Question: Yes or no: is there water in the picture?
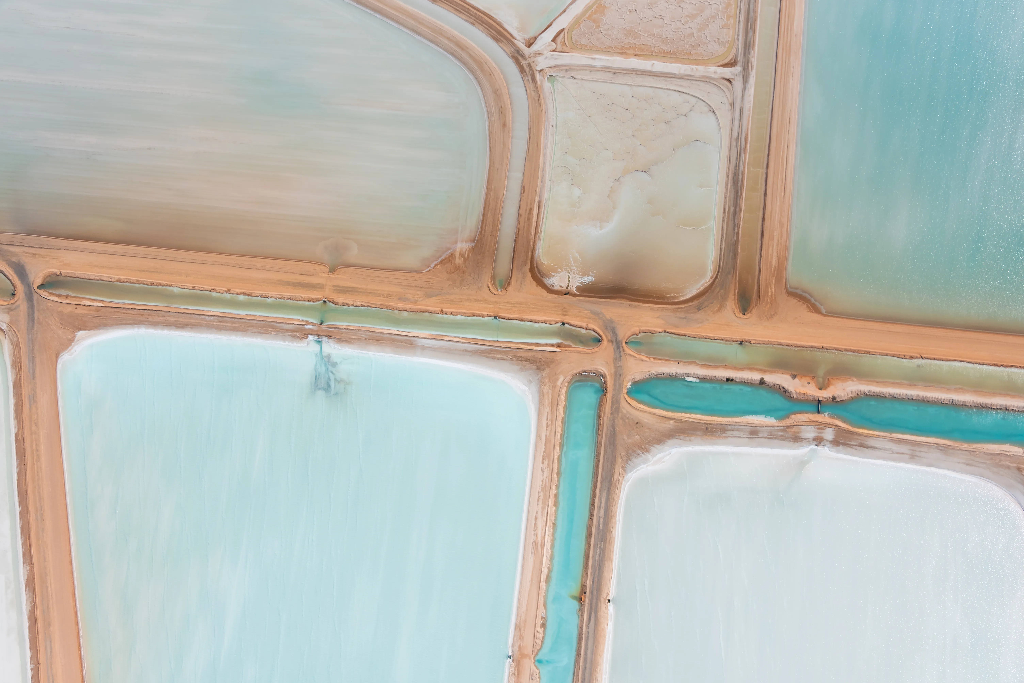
Yes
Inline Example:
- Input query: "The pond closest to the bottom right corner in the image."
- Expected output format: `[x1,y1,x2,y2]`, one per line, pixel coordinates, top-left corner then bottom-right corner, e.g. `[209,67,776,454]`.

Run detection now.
[606,451,1024,683]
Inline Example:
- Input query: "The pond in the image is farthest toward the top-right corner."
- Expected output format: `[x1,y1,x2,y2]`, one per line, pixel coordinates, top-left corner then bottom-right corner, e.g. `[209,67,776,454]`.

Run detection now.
[786,0,1024,335]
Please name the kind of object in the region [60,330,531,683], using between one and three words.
pond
